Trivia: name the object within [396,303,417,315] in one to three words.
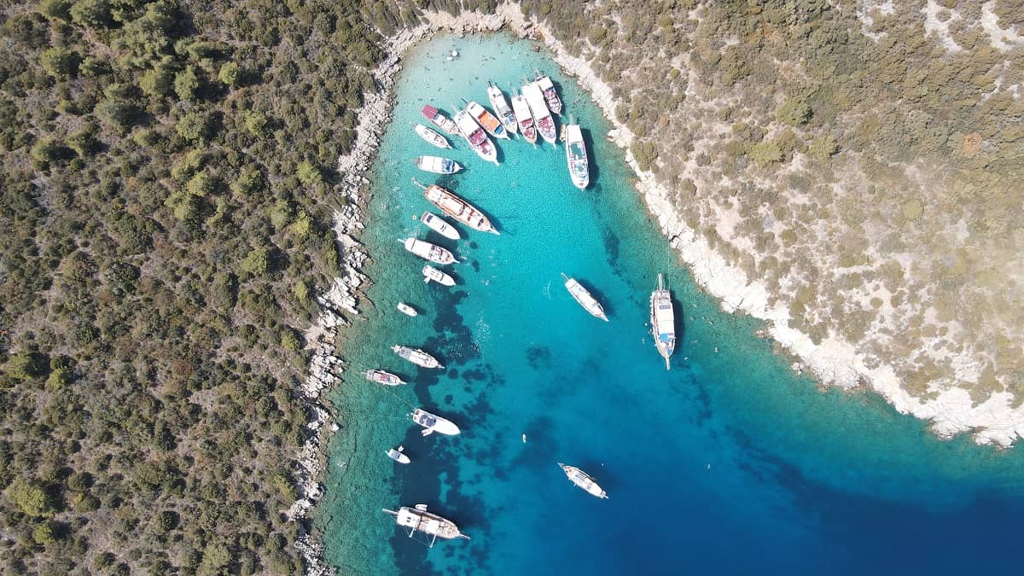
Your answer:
boat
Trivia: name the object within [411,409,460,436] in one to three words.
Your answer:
boat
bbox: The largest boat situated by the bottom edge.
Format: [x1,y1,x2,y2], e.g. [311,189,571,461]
[382,508,470,548]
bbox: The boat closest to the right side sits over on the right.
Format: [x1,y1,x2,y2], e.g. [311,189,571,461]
[649,273,679,370]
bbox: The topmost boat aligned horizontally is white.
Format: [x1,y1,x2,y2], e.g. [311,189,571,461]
[412,155,463,175]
